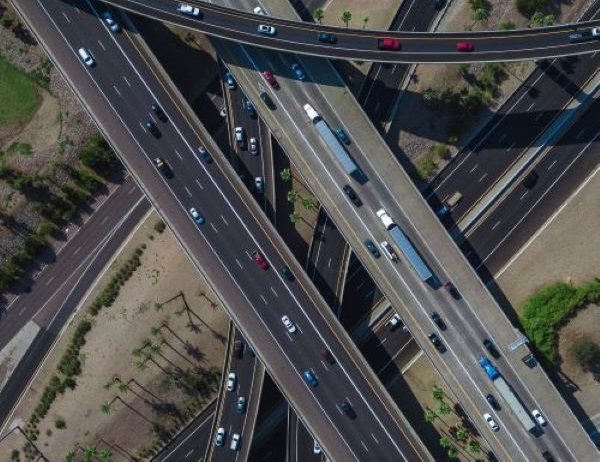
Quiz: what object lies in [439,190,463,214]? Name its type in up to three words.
truck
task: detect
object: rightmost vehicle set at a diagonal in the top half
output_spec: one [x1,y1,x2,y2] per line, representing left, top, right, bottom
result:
[523,172,539,188]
